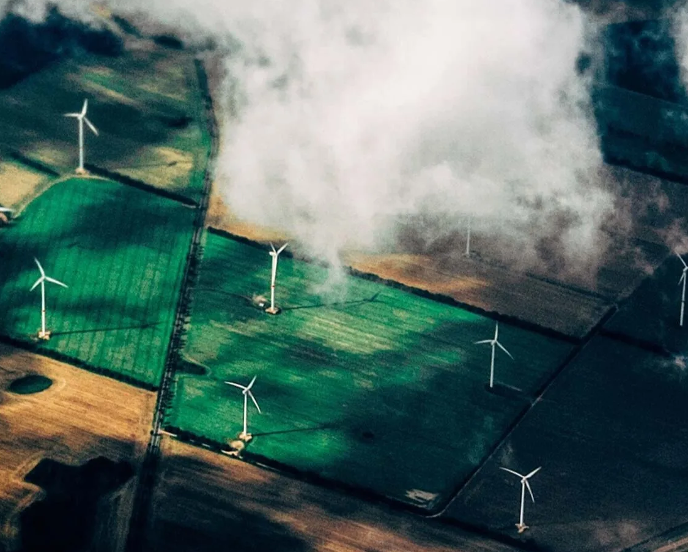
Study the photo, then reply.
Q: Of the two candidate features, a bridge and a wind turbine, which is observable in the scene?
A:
wind turbine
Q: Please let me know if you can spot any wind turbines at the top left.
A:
Yes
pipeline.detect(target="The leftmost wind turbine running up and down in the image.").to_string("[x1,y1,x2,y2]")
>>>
[30,257,65,336]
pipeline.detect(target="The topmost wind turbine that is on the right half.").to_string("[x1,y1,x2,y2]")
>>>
[454,177,490,255]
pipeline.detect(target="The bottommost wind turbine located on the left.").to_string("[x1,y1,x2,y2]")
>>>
[226,374,259,436]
